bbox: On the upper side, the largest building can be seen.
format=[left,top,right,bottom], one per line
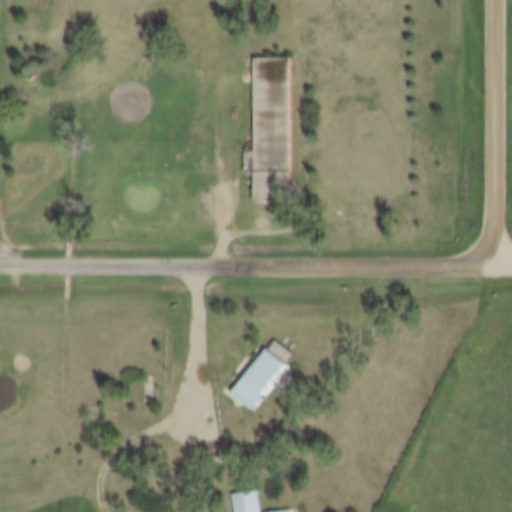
[252,57,292,172]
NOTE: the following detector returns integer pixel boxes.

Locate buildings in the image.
[231,340,293,408]
[252,57,292,172]
[234,490,262,512]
